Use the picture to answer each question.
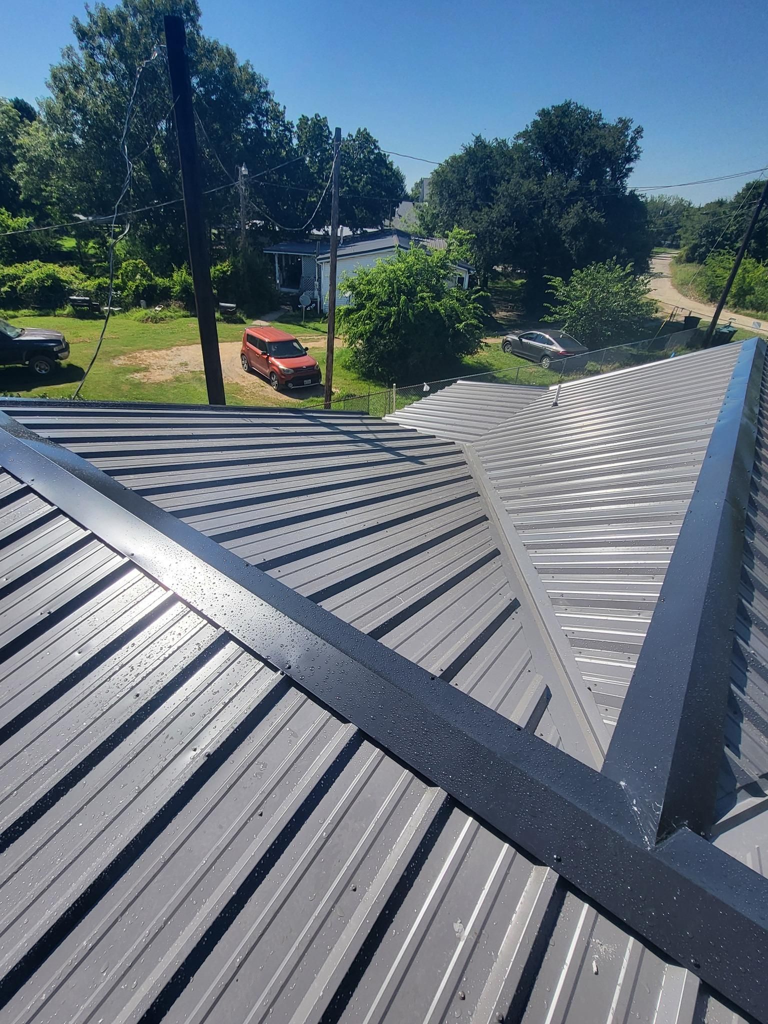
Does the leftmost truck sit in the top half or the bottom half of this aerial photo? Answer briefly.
top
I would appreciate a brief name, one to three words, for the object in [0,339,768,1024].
house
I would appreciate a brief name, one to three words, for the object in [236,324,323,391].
car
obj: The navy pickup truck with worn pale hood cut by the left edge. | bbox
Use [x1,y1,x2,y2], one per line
[0,315,75,374]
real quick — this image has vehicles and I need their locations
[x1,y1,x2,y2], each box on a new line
[503,330,590,369]
[236,324,323,391]
[0,315,75,374]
